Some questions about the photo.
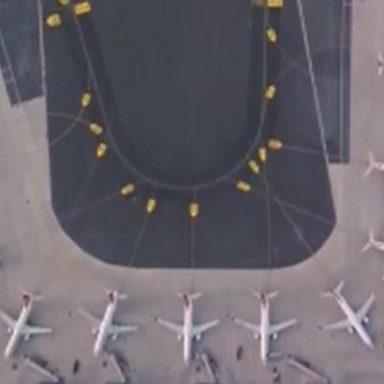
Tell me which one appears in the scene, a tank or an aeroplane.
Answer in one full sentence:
The image shows an aeroplane.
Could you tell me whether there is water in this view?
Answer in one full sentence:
No, the picture contains no water.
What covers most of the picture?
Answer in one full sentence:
Most of the picture is covered by paved ground.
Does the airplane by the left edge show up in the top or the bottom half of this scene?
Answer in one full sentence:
The airplane by the left edge sits in the bottom half of the picture.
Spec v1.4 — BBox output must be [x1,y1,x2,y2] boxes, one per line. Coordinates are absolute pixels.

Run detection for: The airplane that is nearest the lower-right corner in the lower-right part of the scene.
[323,282,375,348]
